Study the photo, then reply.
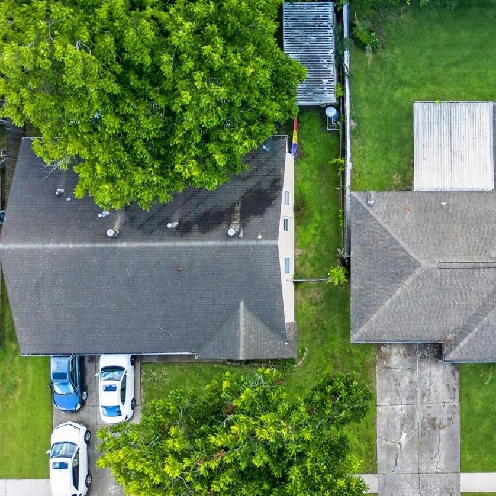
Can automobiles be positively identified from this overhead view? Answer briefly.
Yes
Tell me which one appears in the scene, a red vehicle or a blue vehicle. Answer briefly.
blue vehicle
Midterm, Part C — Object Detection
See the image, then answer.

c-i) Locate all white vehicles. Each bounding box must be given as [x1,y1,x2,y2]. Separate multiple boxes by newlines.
[45,421,89,496]
[93,357,136,424]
